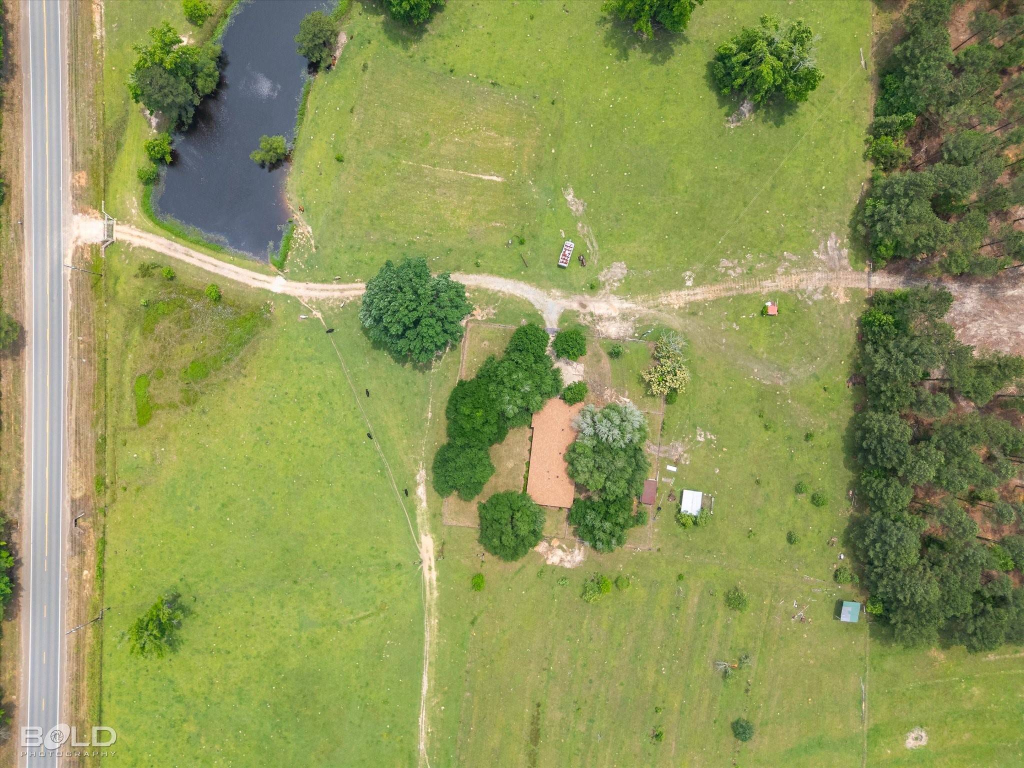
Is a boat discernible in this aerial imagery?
No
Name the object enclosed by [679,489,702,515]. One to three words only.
shed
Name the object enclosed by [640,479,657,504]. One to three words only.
shed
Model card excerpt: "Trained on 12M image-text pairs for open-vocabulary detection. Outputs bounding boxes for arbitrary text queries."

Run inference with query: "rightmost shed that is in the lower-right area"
[830,597,860,622]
